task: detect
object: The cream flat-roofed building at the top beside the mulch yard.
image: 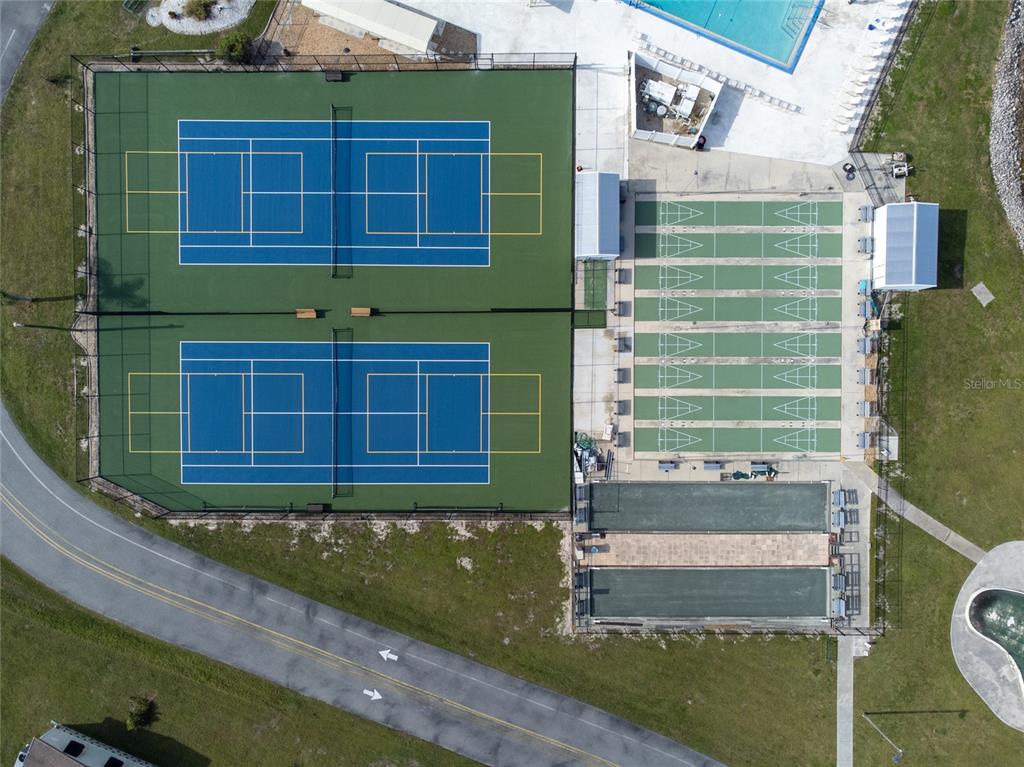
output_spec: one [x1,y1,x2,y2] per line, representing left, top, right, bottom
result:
[298,0,438,58]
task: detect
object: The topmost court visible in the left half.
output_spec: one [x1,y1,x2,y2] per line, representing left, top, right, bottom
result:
[94,69,571,313]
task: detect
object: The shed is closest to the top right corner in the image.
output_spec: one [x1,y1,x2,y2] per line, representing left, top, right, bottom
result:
[873,200,938,288]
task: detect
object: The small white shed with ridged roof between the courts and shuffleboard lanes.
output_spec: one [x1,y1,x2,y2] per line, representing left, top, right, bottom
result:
[575,170,620,260]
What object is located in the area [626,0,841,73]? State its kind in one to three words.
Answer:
swimming pool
